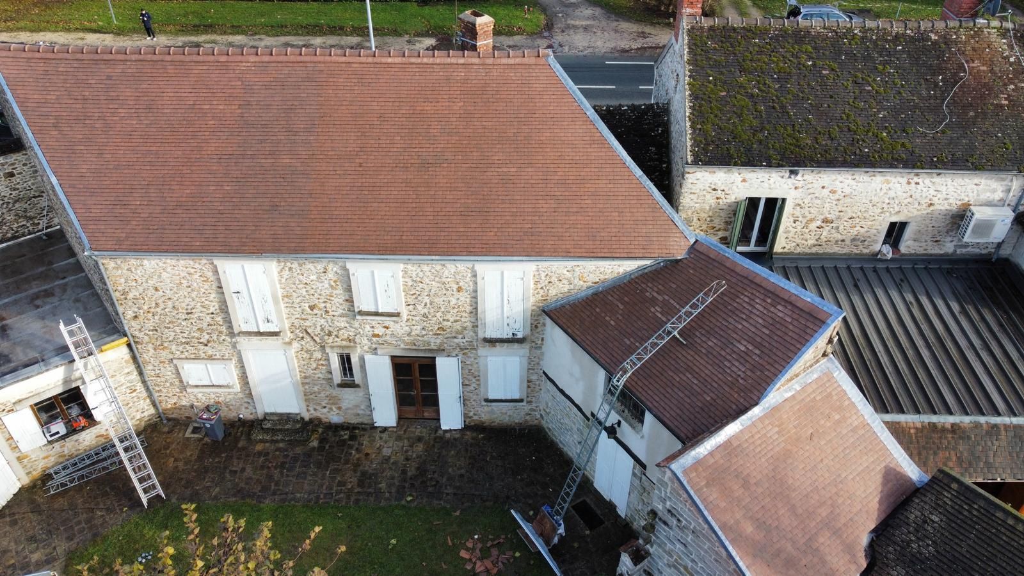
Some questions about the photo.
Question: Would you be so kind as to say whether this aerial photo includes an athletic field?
No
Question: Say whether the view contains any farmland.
No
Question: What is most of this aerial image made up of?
buildings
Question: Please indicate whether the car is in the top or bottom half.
top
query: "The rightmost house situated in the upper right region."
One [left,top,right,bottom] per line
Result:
[652,0,1024,269]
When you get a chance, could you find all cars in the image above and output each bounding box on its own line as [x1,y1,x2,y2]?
[786,0,860,20]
